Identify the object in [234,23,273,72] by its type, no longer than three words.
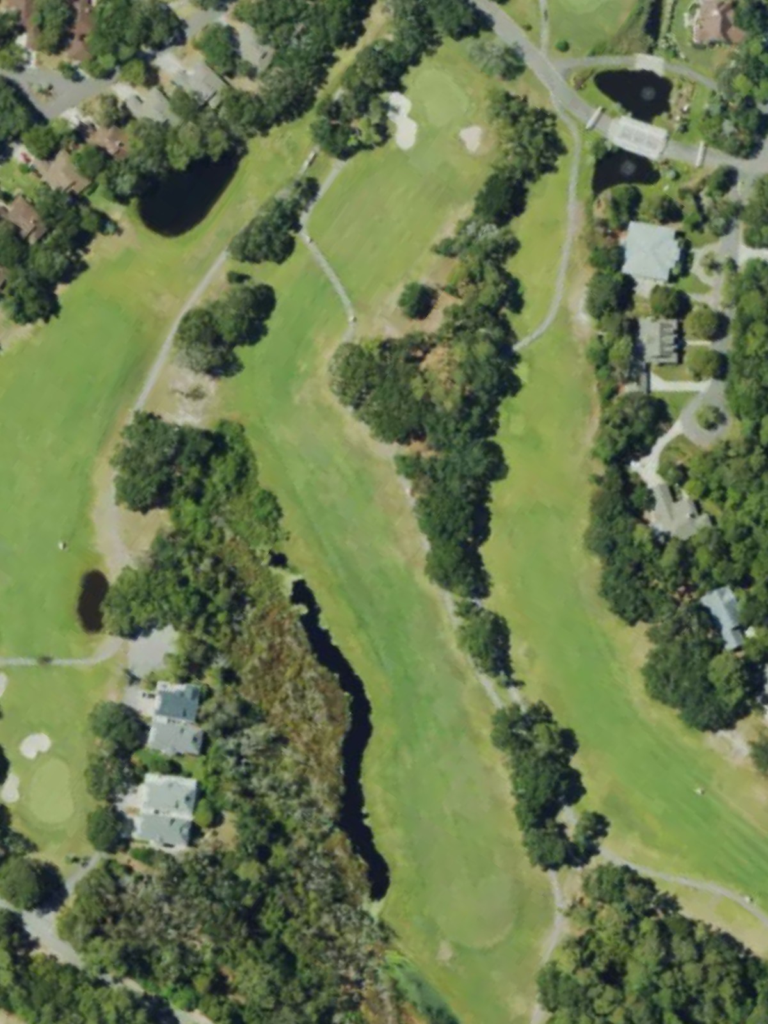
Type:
house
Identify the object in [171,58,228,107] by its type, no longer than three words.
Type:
house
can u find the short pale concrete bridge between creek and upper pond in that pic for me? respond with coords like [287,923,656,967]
[634,54,666,78]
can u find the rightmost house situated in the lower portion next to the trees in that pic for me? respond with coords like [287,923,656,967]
[699,582,747,650]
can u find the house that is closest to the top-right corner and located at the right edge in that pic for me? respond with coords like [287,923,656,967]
[694,0,748,42]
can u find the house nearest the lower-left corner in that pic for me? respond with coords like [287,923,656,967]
[130,811,191,851]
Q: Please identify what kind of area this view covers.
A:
golf course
